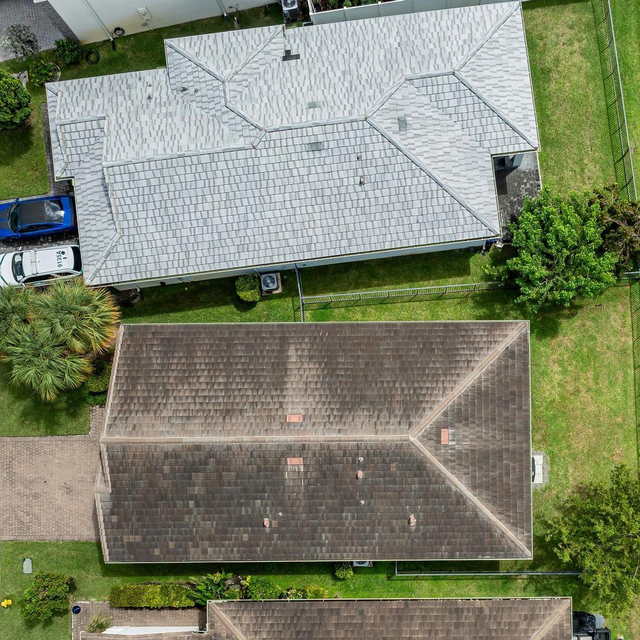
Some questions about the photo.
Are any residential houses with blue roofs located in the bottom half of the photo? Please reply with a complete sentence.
No, the scene shows no residential house with a blue roof in the bottom half of the photo.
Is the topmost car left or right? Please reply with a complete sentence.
It is on the left.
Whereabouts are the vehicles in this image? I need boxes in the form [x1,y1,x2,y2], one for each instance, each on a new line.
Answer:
[0,239,84,288]
[0,195,79,243]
